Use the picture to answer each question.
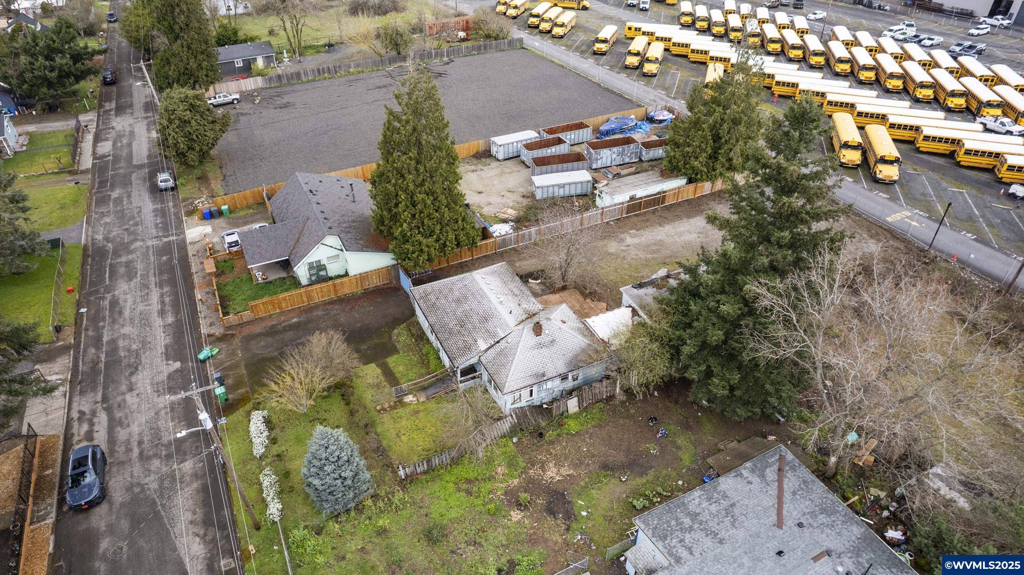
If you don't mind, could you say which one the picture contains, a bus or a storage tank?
bus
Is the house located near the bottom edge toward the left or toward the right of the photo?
right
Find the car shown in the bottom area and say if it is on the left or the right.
left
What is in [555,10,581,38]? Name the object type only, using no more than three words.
bus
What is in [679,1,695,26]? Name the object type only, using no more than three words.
vehicle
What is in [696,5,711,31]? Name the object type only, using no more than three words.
vehicle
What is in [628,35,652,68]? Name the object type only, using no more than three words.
bus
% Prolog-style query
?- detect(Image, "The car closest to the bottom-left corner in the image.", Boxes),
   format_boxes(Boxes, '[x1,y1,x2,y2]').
[53,437,104,515]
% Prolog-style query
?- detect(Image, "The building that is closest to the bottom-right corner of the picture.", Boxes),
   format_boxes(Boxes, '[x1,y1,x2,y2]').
[619,445,922,575]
